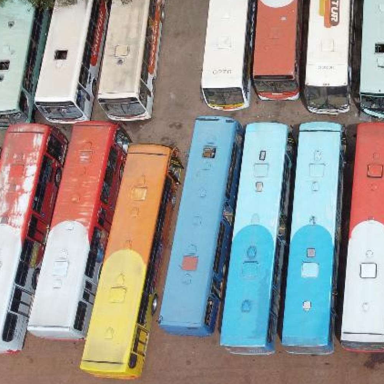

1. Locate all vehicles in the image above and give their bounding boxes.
[304,0,353,109]
[283,124,348,356]
[220,124,294,357]
[357,0,384,119]
[252,0,303,99]
[83,145,183,382]
[0,126,67,355]
[29,123,129,341]
[99,0,166,119]
[35,0,112,124]
[159,119,245,339]
[341,124,384,353]
[202,0,257,111]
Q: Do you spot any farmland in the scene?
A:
No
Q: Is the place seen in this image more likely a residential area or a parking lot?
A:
parking lot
